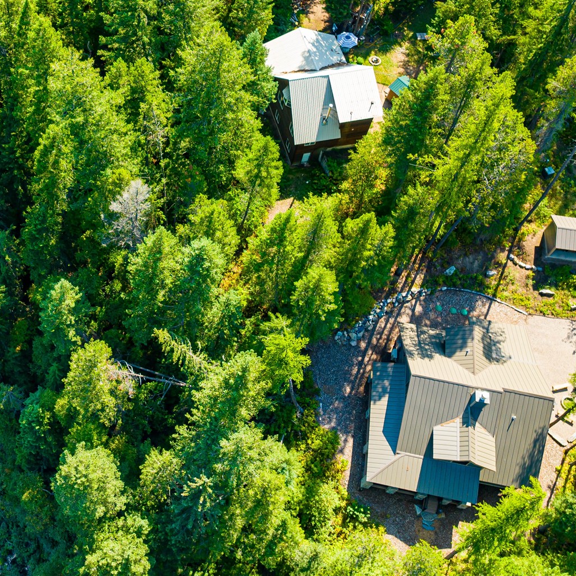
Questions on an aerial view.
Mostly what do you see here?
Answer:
trees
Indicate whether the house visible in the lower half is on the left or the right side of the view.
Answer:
right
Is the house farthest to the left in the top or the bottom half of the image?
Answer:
top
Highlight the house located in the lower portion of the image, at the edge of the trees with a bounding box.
[362,316,558,510]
